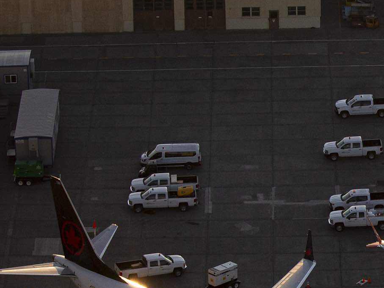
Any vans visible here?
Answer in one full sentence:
Yes, there's a van down there.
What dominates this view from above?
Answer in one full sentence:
The scene is dominated by paved ground.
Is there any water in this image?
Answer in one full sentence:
No, there's no water in this view.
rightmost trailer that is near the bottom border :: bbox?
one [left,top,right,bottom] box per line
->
[196,259,243,288]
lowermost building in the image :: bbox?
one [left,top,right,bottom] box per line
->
[14,86,60,166]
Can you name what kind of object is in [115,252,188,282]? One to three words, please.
truck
